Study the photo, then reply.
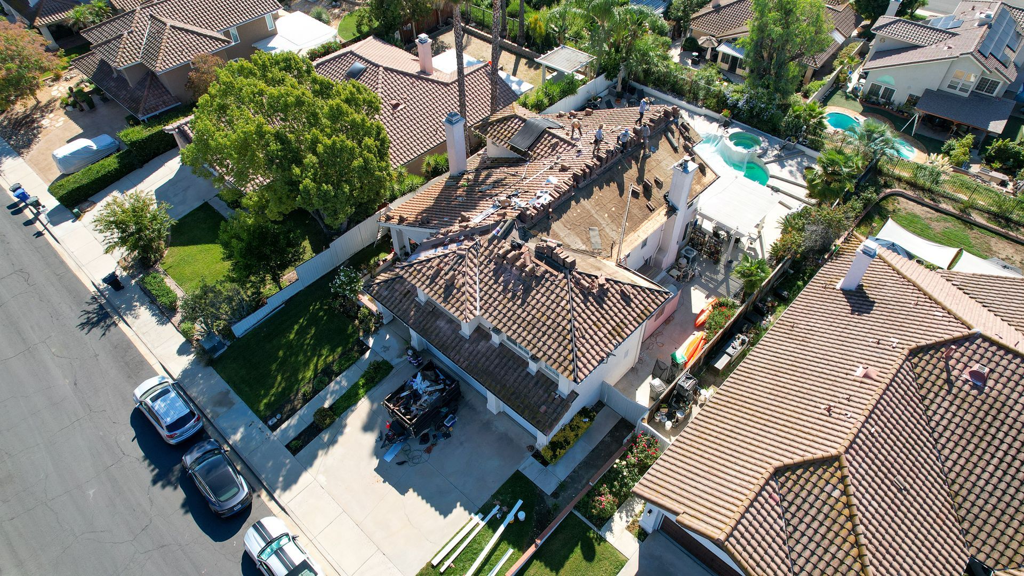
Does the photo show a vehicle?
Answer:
Yes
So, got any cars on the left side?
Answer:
Yes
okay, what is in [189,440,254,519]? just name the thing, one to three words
car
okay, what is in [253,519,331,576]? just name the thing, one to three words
car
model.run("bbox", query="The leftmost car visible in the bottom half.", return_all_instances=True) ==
[136,376,204,445]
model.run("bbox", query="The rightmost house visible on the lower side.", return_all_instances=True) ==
[627,230,1024,576]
